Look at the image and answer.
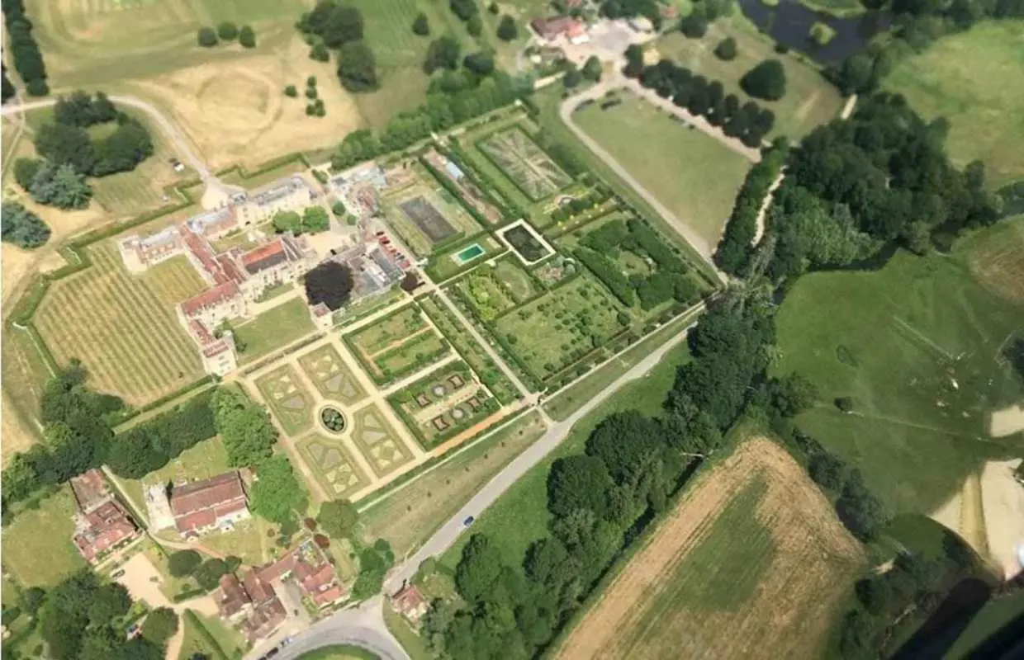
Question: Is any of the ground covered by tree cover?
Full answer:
Yes, there's tree cover in this view.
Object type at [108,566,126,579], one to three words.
vehicle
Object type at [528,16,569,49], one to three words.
barn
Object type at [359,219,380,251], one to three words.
shed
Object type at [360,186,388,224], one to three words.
house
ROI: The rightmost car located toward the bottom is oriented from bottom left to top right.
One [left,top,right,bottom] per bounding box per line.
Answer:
[461,514,476,528]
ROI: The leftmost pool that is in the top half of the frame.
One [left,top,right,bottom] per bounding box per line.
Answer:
[455,242,486,264]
